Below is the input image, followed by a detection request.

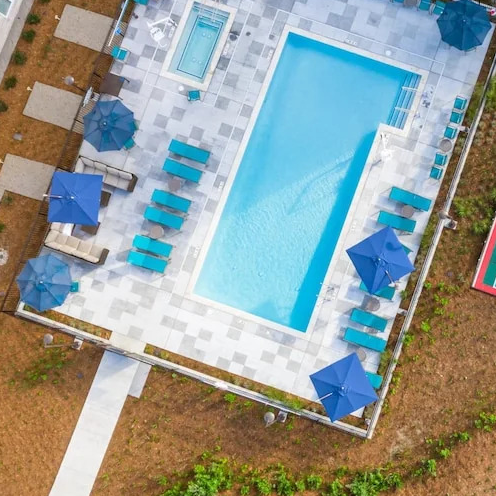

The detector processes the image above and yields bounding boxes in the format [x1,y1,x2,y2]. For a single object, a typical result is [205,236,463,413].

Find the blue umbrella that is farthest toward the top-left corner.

[81,98,138,153]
